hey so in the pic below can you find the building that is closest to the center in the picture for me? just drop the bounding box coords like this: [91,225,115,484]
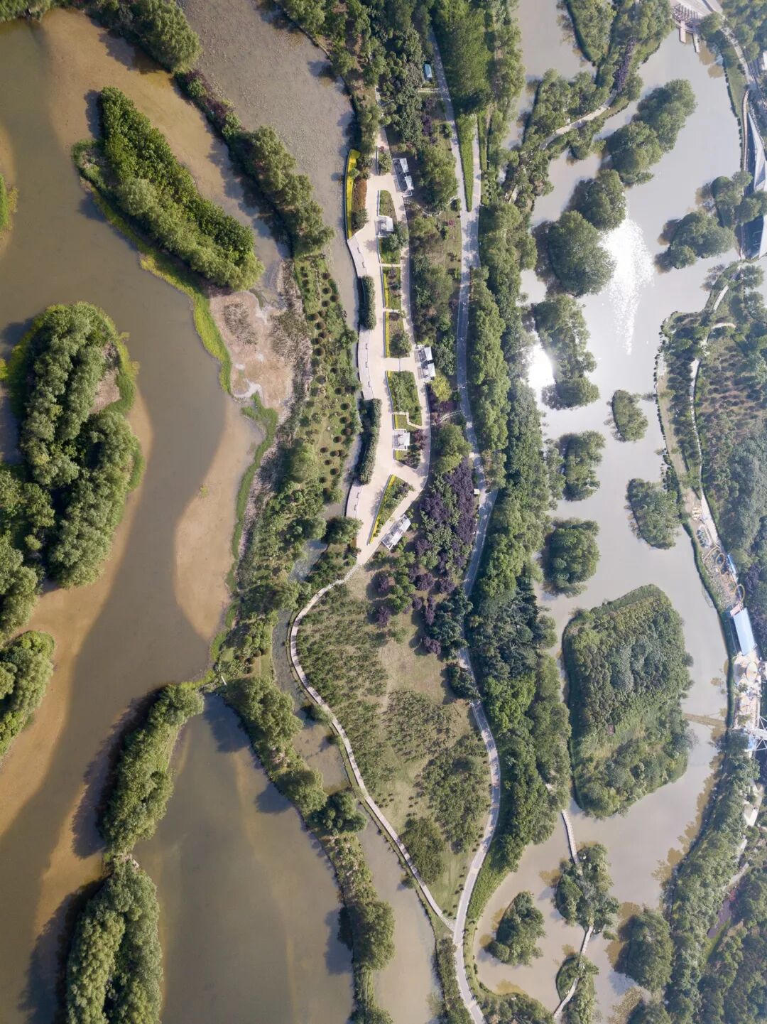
[382,514,411,549]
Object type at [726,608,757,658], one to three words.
building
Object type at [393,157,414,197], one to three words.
building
